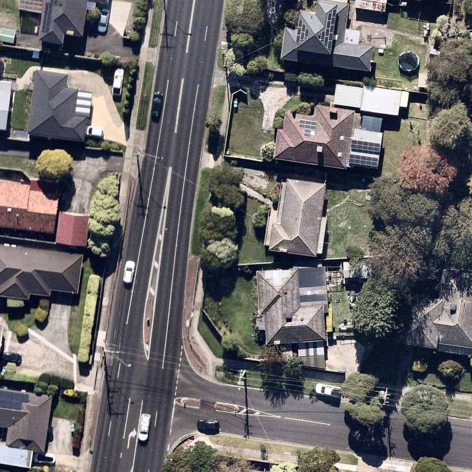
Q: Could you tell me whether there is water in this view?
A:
No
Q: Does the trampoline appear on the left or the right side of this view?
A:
right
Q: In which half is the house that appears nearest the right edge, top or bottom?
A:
bottom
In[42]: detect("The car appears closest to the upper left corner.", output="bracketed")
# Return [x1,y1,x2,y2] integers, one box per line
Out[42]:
[96,7,111,35]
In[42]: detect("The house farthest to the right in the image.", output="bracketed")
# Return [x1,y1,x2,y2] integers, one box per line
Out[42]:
[408,270,472,355]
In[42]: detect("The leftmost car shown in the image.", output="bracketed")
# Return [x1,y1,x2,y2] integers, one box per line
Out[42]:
[0,351,26,365]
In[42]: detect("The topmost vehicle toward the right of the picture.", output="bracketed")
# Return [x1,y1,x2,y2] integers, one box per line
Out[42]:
[313,383,344,398]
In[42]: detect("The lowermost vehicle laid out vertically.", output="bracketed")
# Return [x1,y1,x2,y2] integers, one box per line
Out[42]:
[137,413,152,441]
